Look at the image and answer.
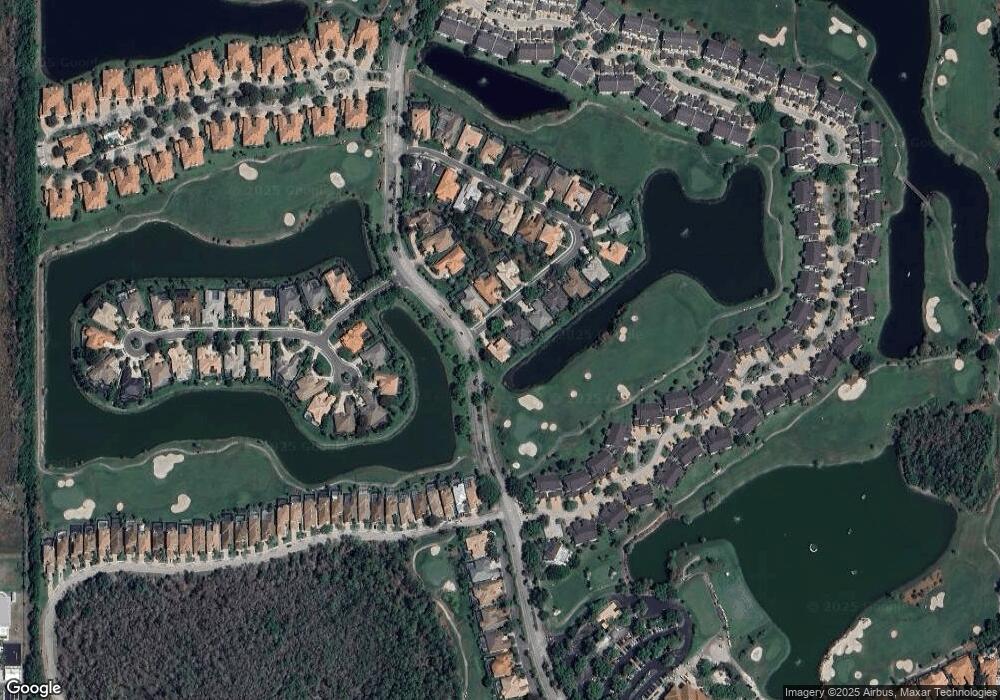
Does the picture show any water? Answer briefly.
Yes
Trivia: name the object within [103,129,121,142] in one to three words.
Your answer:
swimming pool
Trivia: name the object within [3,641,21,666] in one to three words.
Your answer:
building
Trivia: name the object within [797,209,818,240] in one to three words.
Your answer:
house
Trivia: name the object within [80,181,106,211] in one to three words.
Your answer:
house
